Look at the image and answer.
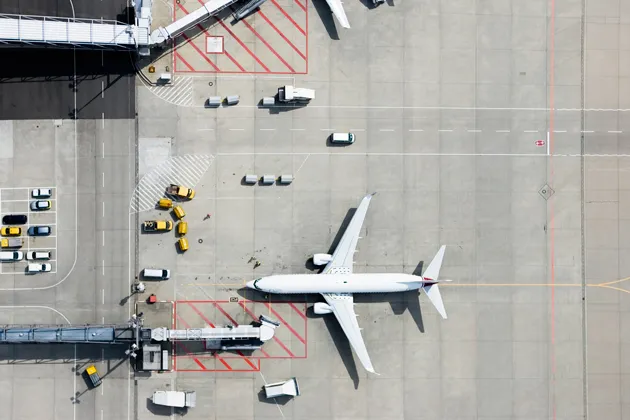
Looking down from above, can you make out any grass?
No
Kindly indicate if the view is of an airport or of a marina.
airport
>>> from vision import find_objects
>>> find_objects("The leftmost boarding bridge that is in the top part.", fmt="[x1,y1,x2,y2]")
[0,14,132,49]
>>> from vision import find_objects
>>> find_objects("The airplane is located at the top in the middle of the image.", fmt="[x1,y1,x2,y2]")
[326,0,349,28]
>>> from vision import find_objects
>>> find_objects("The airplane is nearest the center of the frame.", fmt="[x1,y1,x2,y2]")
[246,192,449,375]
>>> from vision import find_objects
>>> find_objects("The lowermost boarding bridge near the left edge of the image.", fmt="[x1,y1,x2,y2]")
[0,323,133,344]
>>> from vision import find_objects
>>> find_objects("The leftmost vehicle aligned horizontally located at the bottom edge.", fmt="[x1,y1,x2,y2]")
[152,391,195,408]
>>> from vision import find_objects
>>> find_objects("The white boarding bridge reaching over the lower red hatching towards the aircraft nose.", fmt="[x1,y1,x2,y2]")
[135,317,279,351]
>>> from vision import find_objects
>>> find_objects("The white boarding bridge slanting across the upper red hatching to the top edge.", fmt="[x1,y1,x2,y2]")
[148,0,239,46]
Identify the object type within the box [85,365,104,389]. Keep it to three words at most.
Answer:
vehicle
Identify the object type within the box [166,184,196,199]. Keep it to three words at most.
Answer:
vehicle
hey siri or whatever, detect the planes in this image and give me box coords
[326,0,349,28]
[246,192,449,375]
